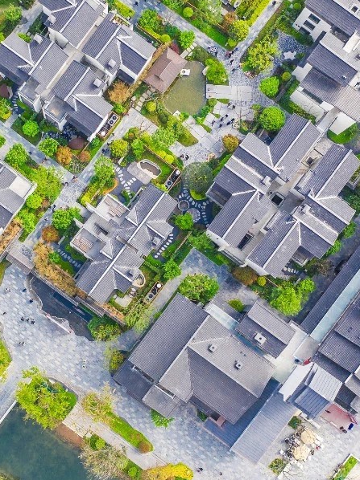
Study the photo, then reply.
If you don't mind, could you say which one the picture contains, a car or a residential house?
residential house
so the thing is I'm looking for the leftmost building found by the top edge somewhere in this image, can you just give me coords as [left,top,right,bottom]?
[0,0,159,141]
